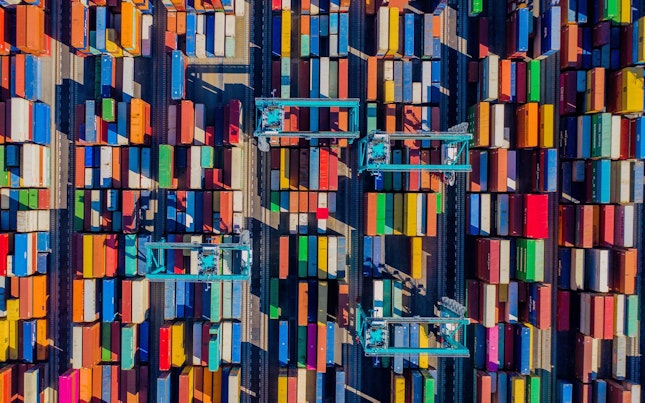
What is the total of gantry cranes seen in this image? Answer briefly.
4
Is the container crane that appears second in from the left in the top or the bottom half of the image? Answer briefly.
top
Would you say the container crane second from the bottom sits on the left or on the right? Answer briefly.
left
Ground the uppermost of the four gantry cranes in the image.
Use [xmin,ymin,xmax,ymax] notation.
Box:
[257,91,362,152]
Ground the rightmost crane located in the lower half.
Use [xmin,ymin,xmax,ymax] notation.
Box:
[355,297,470,365]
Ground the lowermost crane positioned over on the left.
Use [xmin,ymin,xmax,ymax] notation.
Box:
[145,229,255,288]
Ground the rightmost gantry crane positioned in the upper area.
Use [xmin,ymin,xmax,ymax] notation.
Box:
[358,125,473,185]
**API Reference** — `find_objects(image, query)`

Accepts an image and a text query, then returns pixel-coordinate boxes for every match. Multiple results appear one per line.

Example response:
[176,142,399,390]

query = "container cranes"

[145,229,255,288]
[355,297,470,365]
[257,91,362,152]
[358,125,473,185]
